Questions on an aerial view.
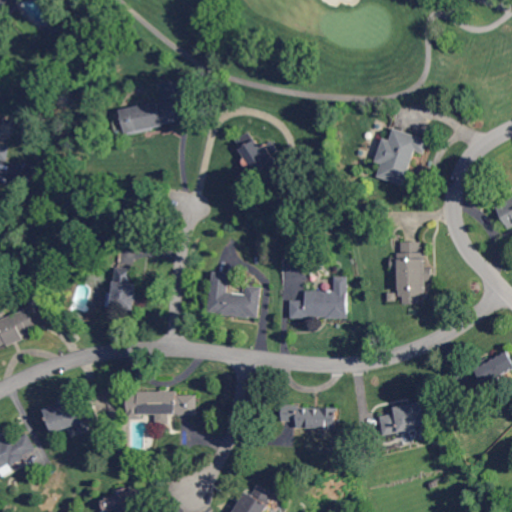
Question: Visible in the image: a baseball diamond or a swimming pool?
swimming pool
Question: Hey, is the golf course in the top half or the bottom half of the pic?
top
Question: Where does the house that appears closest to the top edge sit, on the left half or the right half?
left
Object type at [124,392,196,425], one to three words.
house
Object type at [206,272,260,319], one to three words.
house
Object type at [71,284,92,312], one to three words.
swimming pool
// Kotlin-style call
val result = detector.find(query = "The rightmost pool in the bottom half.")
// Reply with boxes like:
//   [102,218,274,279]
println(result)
[130,416,154,452]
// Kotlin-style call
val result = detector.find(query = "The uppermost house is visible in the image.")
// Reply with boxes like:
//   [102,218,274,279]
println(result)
[118,105,160,135]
